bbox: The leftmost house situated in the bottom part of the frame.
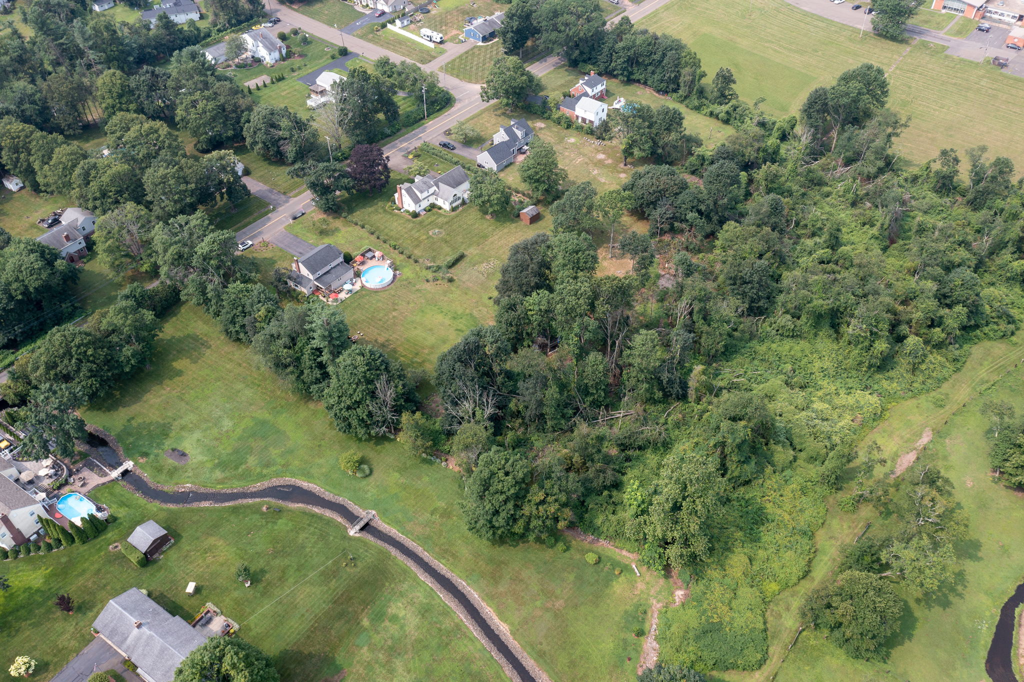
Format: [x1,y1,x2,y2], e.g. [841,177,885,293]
[0,455,50,548]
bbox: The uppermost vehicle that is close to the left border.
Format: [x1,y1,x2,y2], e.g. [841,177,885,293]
[40,212,63,227]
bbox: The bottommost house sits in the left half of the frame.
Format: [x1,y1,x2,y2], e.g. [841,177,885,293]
[92,588,235,682]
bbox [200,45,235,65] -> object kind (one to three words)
building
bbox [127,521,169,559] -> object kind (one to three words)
shed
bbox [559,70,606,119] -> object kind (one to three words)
house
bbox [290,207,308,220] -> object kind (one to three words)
vehicle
